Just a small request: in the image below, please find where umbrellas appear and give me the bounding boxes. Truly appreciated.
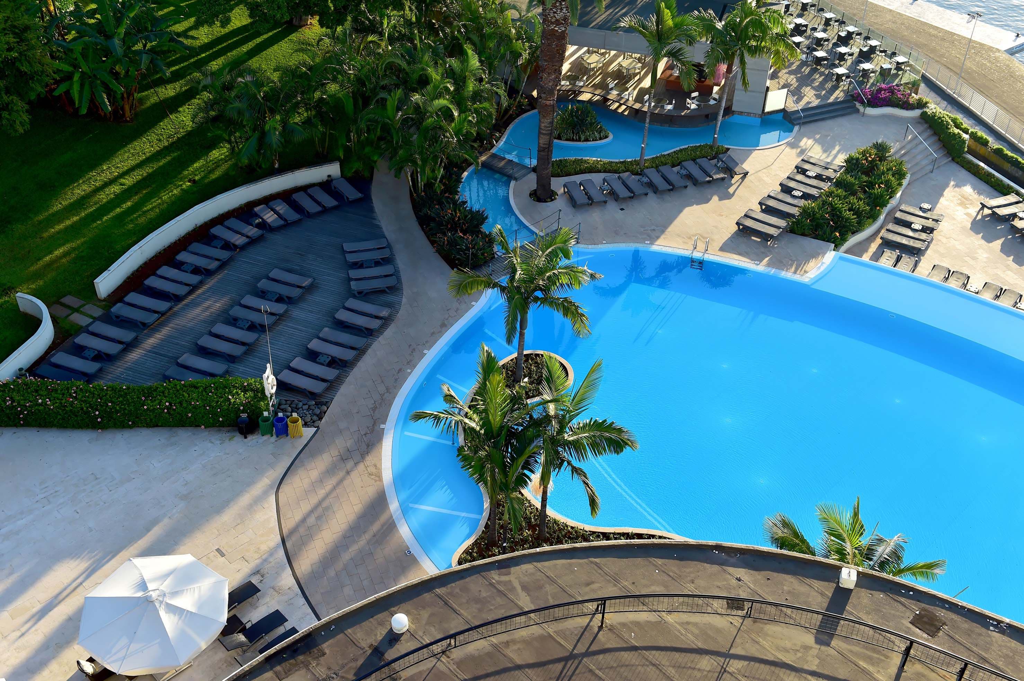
[76,552,230,678]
